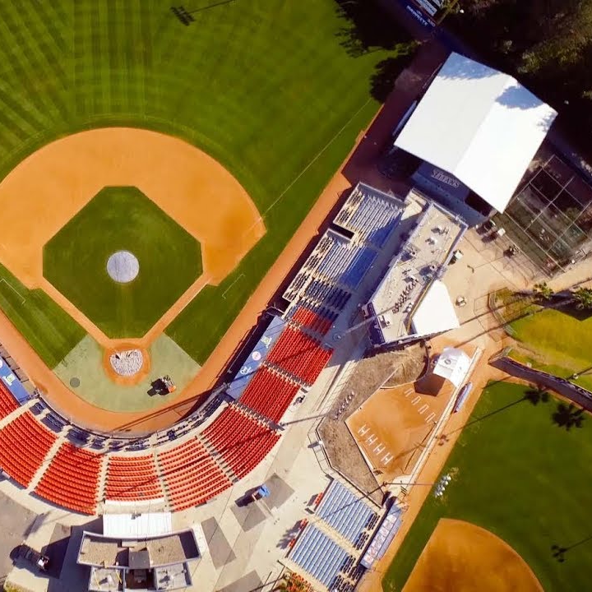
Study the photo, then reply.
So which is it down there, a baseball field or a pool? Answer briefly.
baseball field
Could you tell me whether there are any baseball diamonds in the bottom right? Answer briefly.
Yes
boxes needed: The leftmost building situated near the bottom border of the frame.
[76,526,202,592]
